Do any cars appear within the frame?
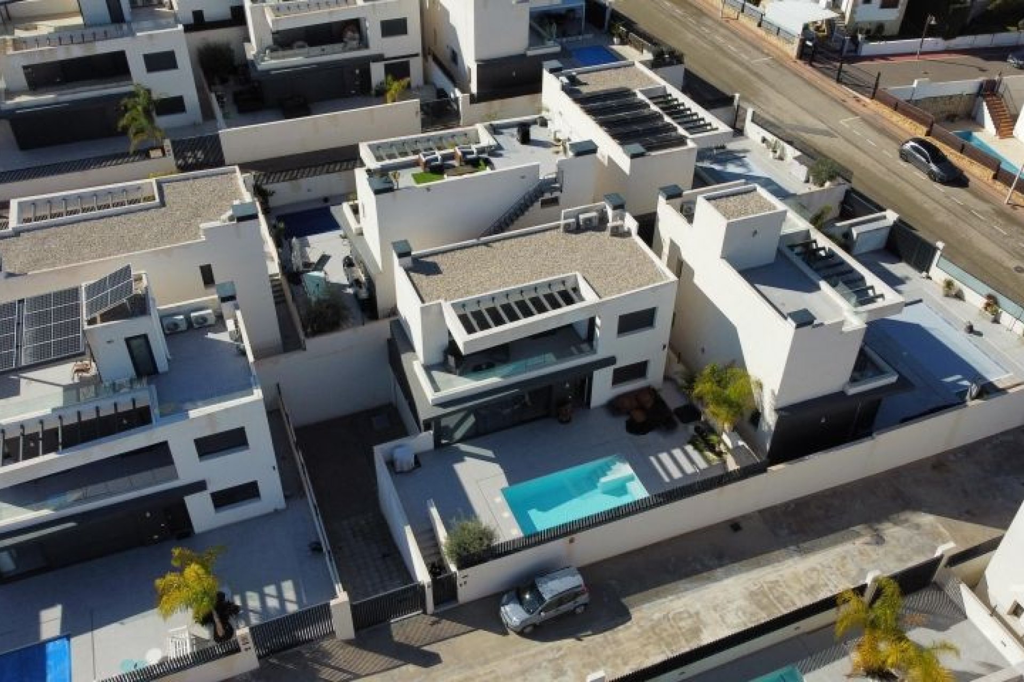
Yes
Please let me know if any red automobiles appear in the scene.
No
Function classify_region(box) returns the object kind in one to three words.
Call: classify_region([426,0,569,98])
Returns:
house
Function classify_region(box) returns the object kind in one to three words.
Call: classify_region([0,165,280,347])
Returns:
house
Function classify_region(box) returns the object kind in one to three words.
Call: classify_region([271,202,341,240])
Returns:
swimming pool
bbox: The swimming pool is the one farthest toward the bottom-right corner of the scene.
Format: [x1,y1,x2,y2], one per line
[713,652,811,682]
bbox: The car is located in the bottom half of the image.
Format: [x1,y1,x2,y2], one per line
[498,563,593,635]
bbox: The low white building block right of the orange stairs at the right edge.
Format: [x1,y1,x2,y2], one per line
[992,72,1024,120]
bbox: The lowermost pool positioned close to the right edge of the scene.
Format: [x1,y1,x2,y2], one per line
[856,294,1023,410]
